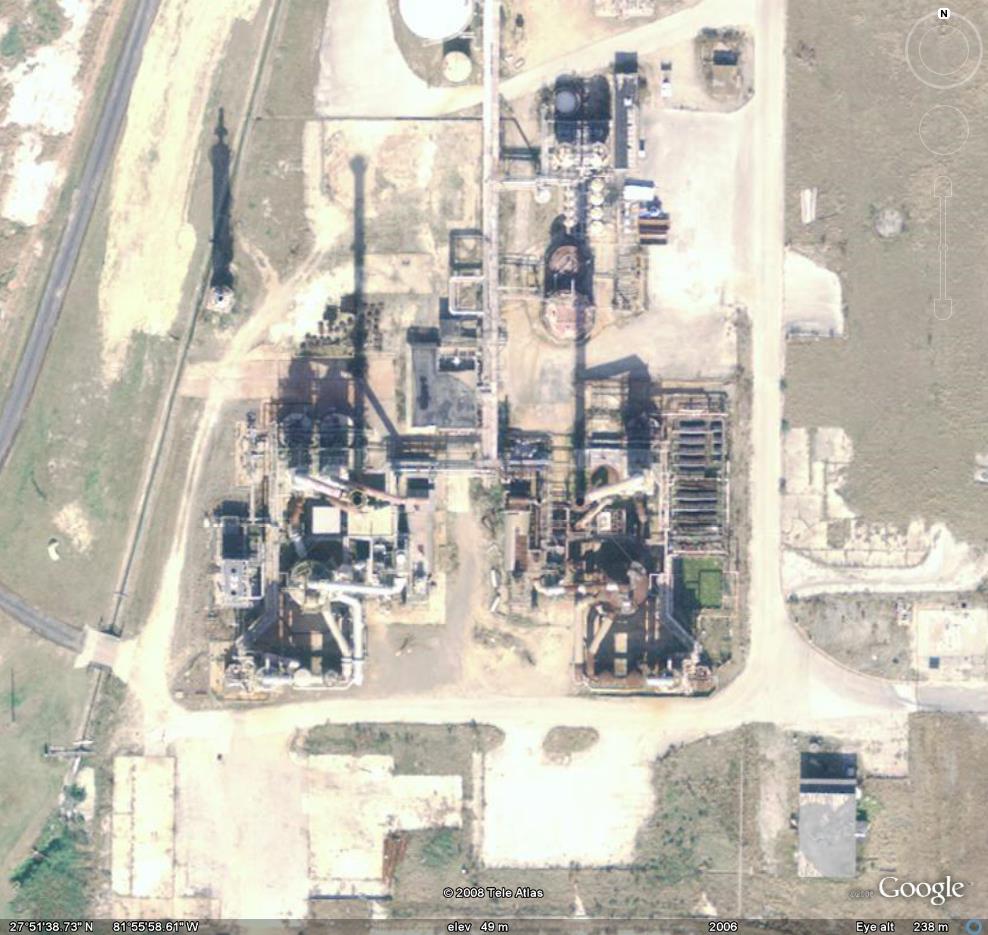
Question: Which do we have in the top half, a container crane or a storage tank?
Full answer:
The feature located in the top half is a storage tank.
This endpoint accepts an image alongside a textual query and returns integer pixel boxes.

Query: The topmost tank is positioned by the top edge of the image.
[396,0,476,41]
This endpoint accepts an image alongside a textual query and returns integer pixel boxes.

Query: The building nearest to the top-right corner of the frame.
[713,65,737,78]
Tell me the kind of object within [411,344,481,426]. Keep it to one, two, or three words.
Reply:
building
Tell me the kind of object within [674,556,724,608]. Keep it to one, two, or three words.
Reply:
pond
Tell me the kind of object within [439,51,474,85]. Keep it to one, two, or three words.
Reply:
storage tank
